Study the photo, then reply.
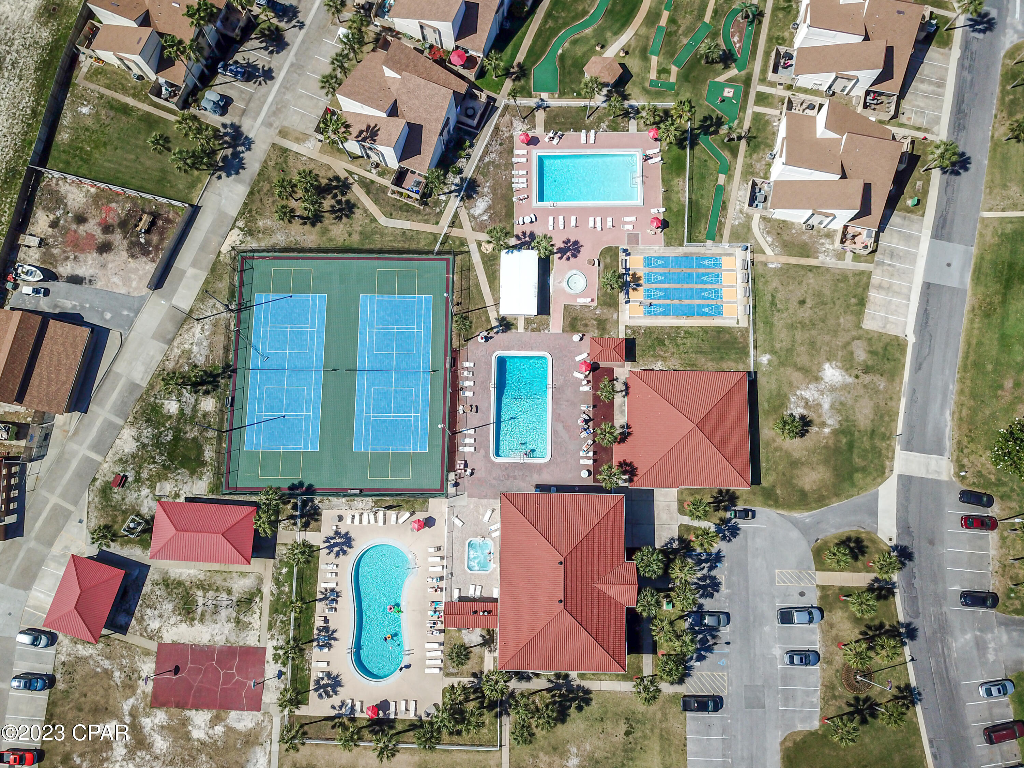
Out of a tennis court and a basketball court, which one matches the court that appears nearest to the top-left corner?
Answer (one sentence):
Looking closely, the court that appears nearest to the top-left corner is a tennis court.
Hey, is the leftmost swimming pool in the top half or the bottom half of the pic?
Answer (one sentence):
The leftmost swimming pool sits in the bottom half of the picture.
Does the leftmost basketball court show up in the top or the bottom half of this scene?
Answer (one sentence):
The bottom half of the photo is where the leftmost basketball court is.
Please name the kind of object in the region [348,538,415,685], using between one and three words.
swimming pool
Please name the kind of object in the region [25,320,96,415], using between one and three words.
shed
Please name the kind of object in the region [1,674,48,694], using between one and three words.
car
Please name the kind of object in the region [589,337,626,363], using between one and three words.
building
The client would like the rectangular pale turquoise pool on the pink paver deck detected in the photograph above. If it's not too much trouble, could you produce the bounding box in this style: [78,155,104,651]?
[532,149,644,207]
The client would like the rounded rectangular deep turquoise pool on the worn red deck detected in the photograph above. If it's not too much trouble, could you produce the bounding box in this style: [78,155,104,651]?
[490,351,553,463]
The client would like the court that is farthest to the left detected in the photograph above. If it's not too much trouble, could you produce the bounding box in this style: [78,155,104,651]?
[151,643,266,712]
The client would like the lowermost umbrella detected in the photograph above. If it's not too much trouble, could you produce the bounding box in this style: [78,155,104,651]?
[365,703,380,718]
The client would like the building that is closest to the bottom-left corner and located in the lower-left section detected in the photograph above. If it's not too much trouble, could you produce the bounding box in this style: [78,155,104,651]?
[42,554,131,644]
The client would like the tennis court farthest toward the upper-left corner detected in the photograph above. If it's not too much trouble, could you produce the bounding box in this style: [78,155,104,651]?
[222,255,453,498]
